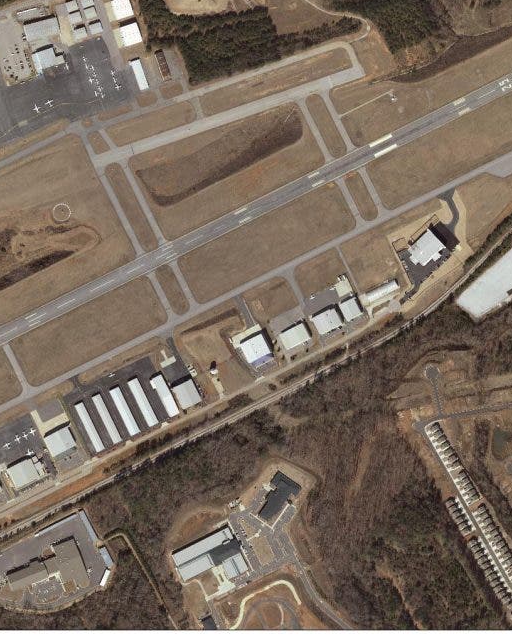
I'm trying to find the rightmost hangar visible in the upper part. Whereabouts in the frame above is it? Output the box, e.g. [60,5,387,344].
[407,230,445,266]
